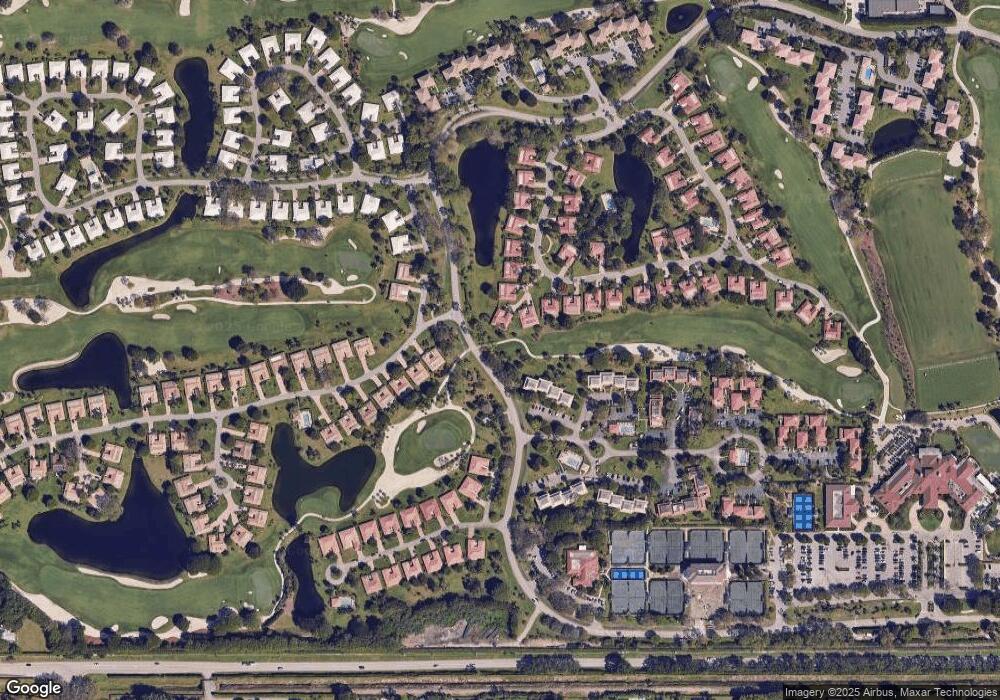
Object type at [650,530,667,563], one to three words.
tennis court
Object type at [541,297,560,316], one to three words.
house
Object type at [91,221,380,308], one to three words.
golf course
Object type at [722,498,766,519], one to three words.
building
